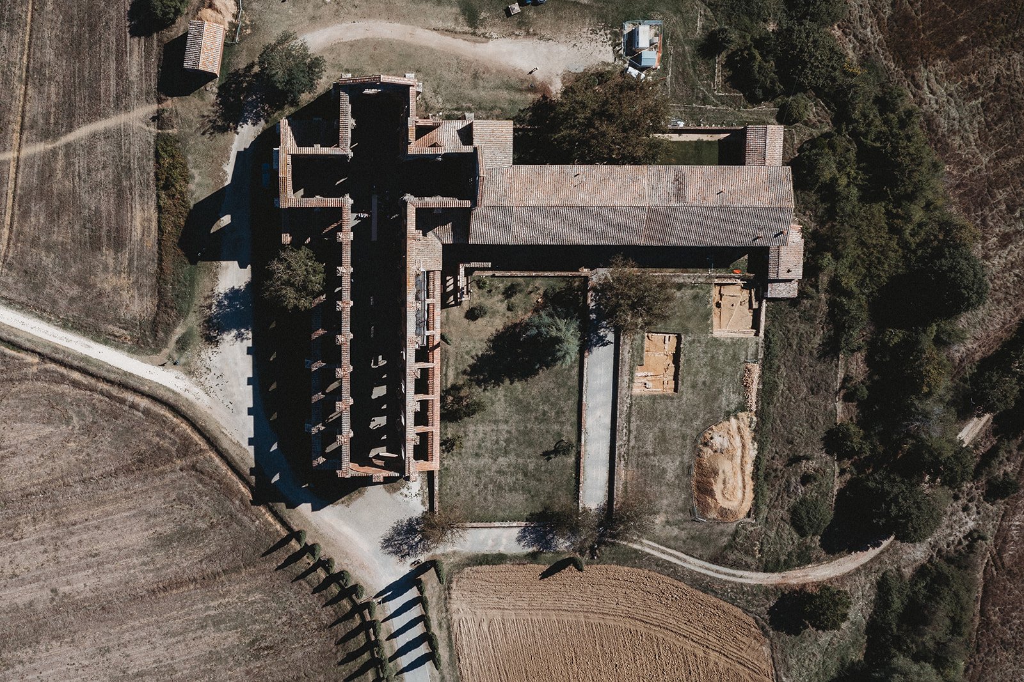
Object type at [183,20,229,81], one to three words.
barn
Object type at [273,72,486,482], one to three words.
church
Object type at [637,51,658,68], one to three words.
shed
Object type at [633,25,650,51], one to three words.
building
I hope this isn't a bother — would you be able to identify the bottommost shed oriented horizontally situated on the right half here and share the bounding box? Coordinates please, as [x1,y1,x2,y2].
[759,279,798,297]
